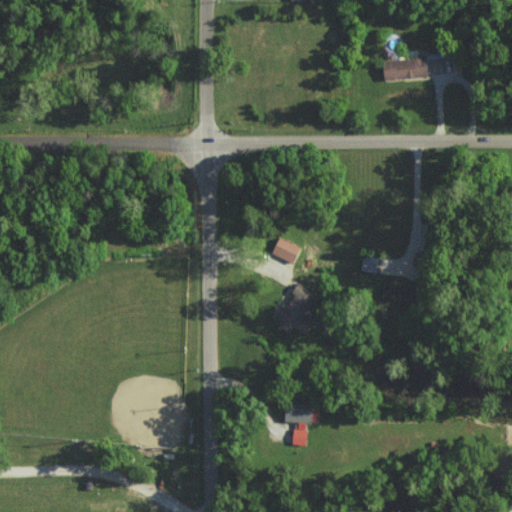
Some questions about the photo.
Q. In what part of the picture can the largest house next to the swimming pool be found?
top right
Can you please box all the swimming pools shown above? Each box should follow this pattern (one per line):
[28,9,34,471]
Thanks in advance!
[384,37,400,60]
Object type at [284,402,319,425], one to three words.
house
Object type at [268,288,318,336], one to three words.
house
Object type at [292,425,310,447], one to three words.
building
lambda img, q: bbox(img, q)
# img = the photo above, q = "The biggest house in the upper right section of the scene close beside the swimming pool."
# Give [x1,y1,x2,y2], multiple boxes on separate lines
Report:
[384,58,429,84]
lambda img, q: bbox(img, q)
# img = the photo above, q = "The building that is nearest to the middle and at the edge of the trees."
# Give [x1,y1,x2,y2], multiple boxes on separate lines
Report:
[272,236,302,264]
